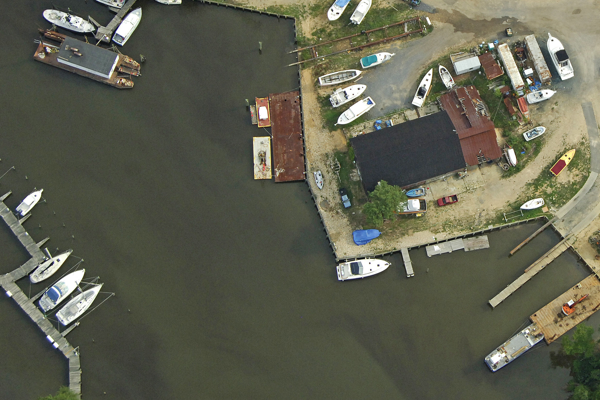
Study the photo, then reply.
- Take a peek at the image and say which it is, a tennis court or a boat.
boat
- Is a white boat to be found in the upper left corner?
Yes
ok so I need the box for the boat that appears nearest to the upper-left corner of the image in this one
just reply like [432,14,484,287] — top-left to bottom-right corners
[42,8,95,32]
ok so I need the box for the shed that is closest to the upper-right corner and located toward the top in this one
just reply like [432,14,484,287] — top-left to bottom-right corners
[478,52,503,81]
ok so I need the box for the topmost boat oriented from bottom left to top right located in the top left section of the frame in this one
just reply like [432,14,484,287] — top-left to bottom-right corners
[111,8,142,47]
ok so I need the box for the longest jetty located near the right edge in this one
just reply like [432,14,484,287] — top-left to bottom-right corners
[486,235,579,310]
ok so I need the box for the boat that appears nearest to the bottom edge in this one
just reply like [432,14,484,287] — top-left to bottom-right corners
[484,323,545,373]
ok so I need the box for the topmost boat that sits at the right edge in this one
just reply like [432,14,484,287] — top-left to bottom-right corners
[546,31,575,83]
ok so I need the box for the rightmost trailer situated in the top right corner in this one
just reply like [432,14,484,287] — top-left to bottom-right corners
[524,34,551,86]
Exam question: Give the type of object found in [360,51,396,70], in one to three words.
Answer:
boat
